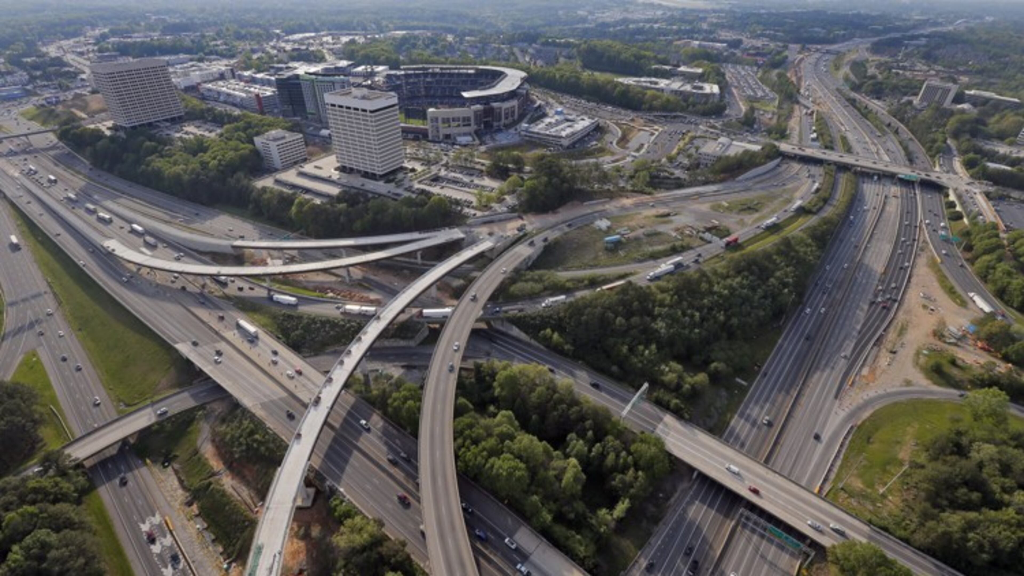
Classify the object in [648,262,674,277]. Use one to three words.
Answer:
vehicle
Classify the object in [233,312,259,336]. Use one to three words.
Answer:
truck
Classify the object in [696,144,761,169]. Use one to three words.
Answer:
building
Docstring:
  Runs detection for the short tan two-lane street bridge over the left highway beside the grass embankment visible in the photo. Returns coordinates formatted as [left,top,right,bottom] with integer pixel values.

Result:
[68,403,158,463]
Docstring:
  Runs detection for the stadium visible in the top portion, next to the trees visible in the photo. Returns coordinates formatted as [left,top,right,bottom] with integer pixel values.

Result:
[363,65,529,139]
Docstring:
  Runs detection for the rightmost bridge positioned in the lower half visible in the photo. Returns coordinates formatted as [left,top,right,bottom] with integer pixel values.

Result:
[656,416,848,550]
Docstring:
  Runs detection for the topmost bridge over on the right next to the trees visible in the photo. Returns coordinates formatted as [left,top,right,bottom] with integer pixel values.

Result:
[761,140,964,192]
